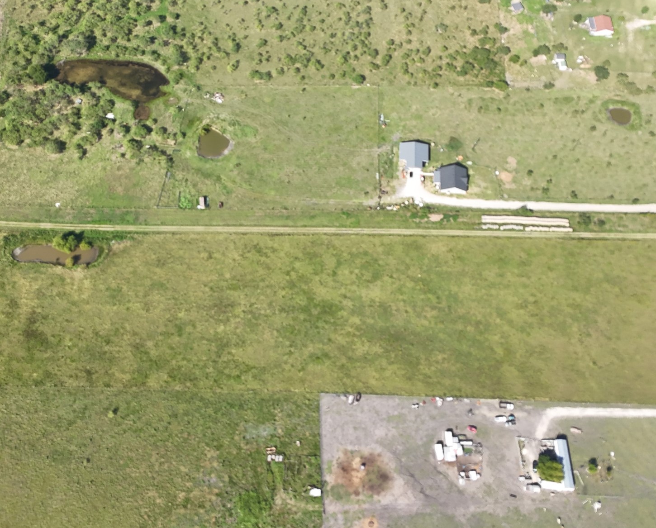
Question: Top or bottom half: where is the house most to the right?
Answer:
top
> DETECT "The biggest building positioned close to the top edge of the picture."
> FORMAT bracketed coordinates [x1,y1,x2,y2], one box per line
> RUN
[583,14,614,39]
